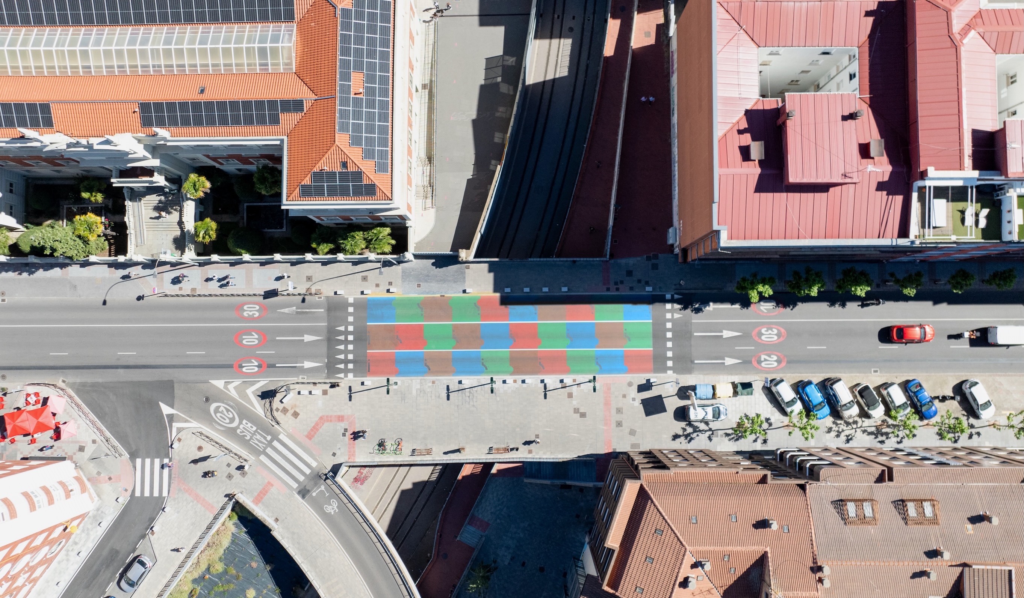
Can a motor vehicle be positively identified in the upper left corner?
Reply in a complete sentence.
No, I see no motor vehicle in the upper left corner.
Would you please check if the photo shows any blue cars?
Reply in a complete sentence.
Yes, the frame does contain a blue car.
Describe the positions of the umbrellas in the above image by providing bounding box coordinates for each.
[4,409,31,438]
[59,420,83,440]
[26,405,58,435]
[48,395,72,414]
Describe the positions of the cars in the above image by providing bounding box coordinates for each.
[825,374,861,421]
[118,549,157,596]
[795,377,831,421]
[770,375,806,420]
[903,376,937,421]
[682,402,729,425]
[851,379,886,422]
[887,322,934,345]
[960,376,995,422]
[878,379,913,422]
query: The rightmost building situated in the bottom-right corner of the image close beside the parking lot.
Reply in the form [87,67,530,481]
[775,443,1024,598]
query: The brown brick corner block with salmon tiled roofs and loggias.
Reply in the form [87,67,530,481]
[585,449,819,598]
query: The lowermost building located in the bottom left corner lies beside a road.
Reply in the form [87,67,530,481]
[0,461,93,598]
